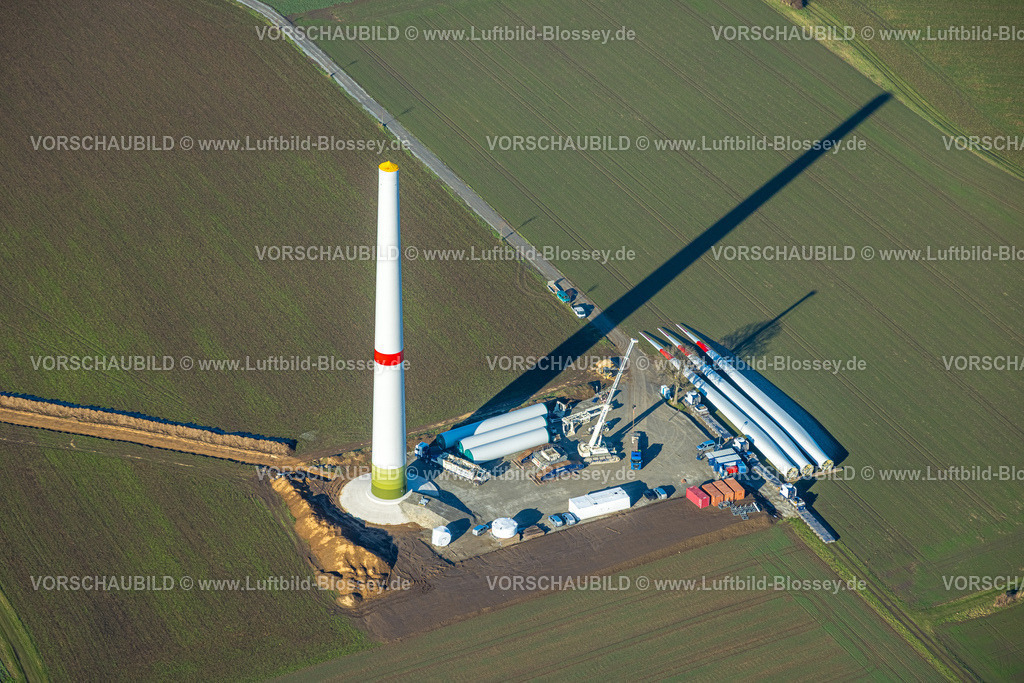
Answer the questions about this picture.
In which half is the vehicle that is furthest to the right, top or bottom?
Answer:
bottom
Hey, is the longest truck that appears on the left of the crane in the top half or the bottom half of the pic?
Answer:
bottom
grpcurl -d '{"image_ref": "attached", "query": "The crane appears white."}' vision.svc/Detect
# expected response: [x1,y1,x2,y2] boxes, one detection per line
[580,339,640,465]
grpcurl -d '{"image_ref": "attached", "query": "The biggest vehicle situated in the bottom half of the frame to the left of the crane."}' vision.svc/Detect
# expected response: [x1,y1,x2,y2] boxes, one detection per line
[413,442,491,483]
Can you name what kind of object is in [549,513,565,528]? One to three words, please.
car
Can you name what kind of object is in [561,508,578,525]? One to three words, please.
car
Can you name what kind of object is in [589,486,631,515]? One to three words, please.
building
